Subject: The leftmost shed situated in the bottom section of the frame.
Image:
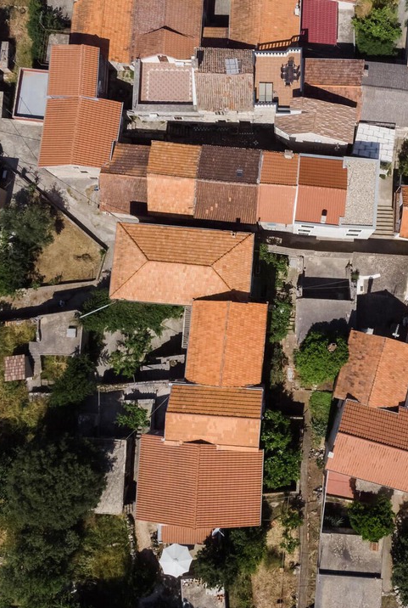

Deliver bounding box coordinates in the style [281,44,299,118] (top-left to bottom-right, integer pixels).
[4,354,32,382]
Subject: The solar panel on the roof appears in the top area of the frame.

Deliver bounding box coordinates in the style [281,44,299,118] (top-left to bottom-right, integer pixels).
[224,59,240,73]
